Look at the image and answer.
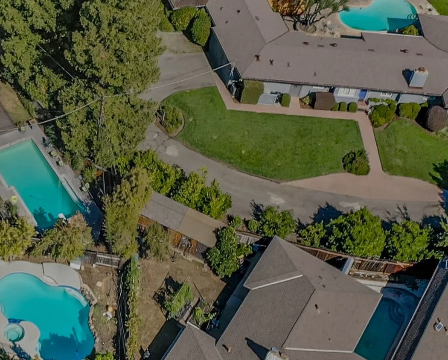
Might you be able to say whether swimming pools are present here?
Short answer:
Yes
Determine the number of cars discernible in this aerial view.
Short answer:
0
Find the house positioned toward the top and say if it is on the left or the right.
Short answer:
right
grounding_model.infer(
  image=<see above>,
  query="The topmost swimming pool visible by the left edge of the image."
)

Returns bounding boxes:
[0,138,83,235]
